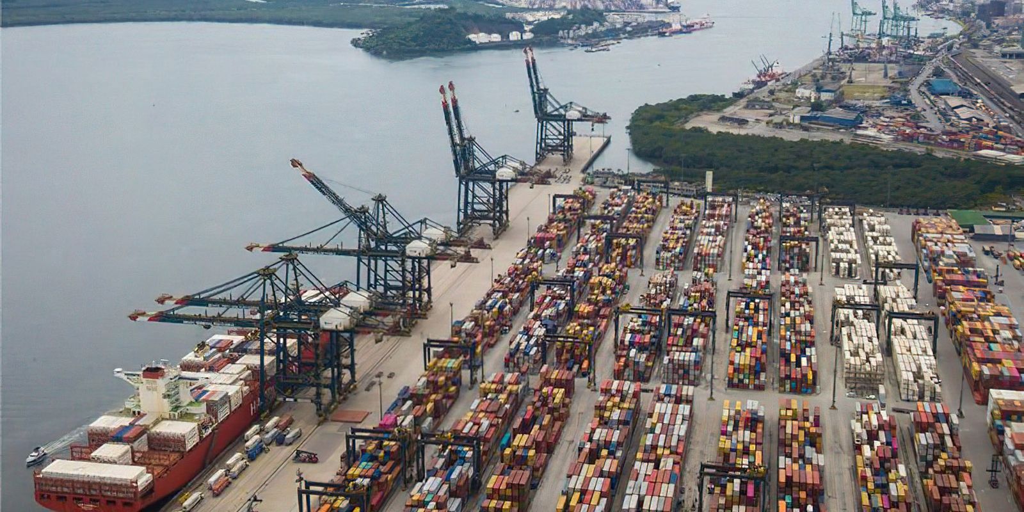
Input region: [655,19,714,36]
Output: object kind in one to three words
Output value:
ship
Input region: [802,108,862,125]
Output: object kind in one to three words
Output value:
building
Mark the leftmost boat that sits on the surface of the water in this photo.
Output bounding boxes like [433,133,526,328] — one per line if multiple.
[26,443,50,462]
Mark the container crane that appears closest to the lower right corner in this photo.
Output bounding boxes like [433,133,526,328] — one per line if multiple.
[883,309,939,351]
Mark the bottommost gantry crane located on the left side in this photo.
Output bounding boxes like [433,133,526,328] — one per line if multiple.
[298,476,372,512]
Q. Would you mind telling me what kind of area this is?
port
